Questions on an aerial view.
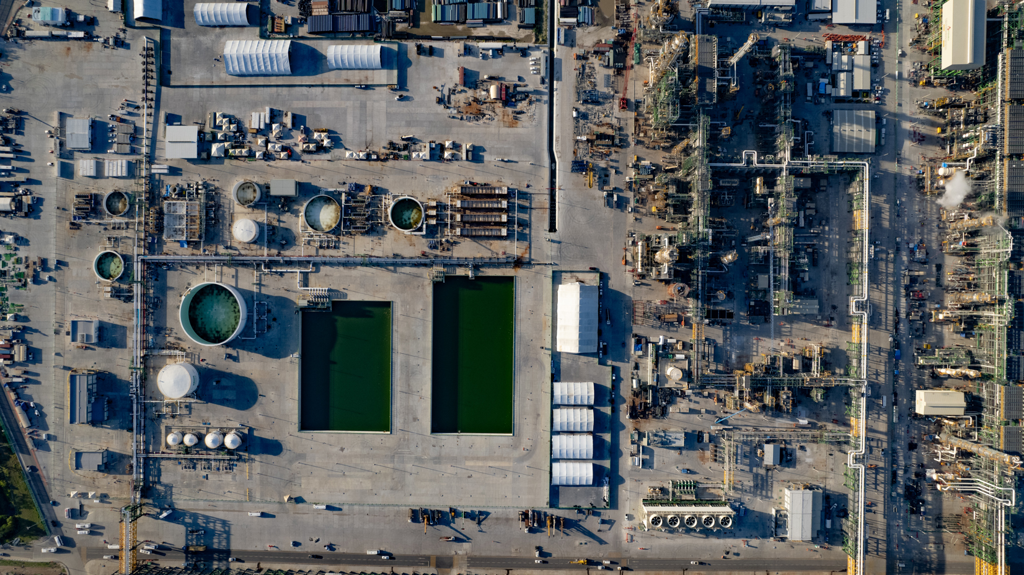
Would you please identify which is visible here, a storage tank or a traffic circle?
storage tank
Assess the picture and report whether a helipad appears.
No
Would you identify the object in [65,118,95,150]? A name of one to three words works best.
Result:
building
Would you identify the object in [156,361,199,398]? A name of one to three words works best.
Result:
storage tank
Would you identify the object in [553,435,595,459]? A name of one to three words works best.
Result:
hangar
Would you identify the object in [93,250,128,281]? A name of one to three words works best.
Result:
storage tank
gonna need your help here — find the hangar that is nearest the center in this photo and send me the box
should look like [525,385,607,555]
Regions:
[553,382,595,405]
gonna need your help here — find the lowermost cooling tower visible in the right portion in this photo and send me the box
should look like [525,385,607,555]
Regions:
[641,502,737,530]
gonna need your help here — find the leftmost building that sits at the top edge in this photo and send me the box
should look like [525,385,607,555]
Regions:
[32,7,70,27]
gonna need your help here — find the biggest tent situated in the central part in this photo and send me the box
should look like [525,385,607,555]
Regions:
[557,283,598,356]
